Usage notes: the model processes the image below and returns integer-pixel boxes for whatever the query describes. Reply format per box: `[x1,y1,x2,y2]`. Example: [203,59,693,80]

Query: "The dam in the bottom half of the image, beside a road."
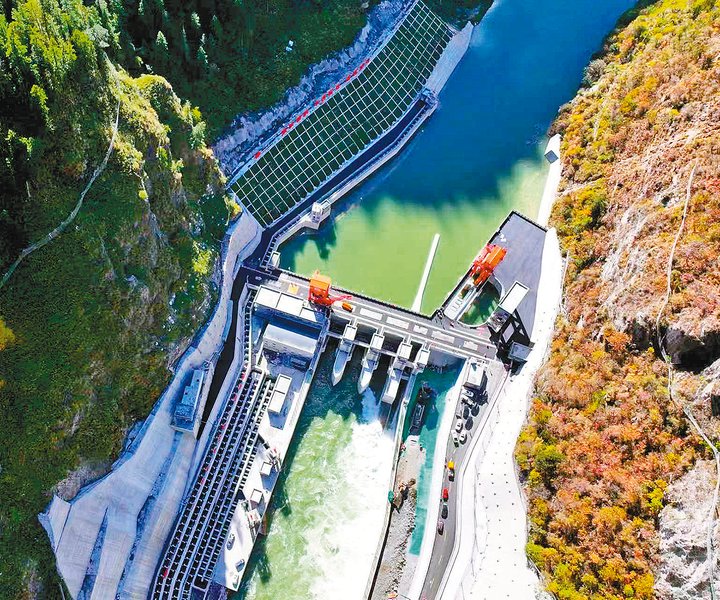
[240,263,500,600]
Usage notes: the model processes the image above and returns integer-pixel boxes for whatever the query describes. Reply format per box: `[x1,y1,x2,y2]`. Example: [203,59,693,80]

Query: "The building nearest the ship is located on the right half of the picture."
[463,359,487,389]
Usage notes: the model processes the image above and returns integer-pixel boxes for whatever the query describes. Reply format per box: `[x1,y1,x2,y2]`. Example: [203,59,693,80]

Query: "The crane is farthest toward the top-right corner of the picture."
[467,243,508,290]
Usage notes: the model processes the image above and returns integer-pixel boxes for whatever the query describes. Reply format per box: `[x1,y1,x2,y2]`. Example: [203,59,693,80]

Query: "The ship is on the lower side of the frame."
[409,400,425,435]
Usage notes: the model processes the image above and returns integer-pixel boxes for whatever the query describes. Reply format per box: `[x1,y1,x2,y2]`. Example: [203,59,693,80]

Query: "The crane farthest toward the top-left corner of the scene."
[304,268,356,311]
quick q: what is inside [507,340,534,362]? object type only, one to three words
building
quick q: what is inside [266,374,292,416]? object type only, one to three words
building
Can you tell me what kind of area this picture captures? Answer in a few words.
port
